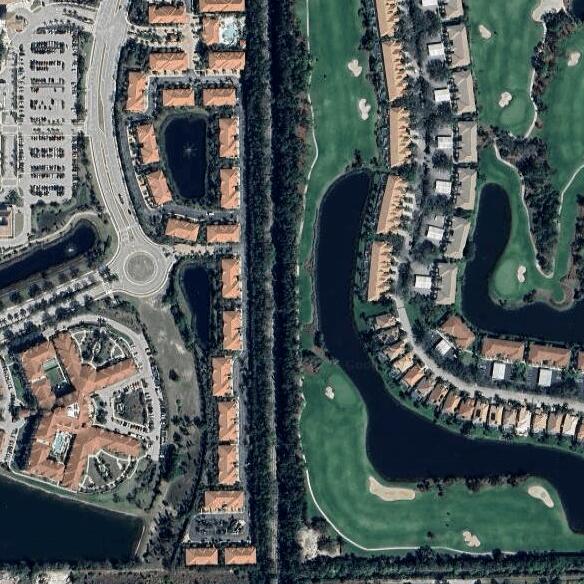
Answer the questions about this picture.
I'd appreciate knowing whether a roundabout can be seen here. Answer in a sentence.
Yes, there's a roundabout down there.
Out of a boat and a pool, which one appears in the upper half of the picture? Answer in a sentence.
You can see a pool in the upper half of the picture.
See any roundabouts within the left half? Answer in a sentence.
Yes, within the left half there is a roundabout.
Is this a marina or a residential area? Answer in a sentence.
The picture captures a residential area.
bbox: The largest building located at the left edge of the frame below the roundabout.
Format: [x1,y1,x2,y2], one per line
[16,329,143,494]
